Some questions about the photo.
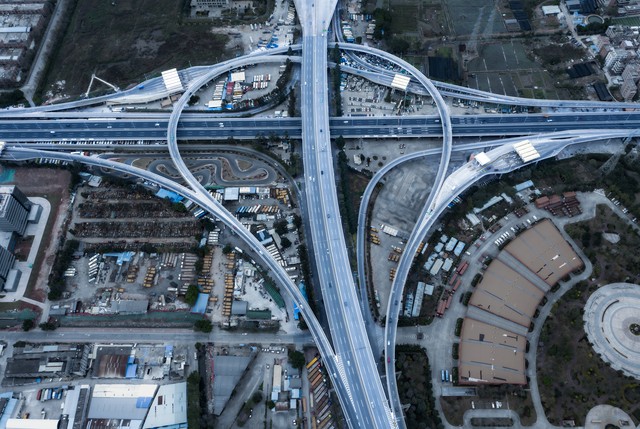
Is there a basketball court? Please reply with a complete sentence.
No, this view has no basketball court in it.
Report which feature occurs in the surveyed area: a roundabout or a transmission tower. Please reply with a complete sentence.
Looking from above, you can make out a transmission tower.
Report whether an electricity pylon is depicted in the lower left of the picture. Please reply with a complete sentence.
No, the scene shows no electricity pylon in the lower left of the picture.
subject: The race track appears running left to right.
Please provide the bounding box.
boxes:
[95,151,287,191]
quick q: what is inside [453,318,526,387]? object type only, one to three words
building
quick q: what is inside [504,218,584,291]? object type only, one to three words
building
